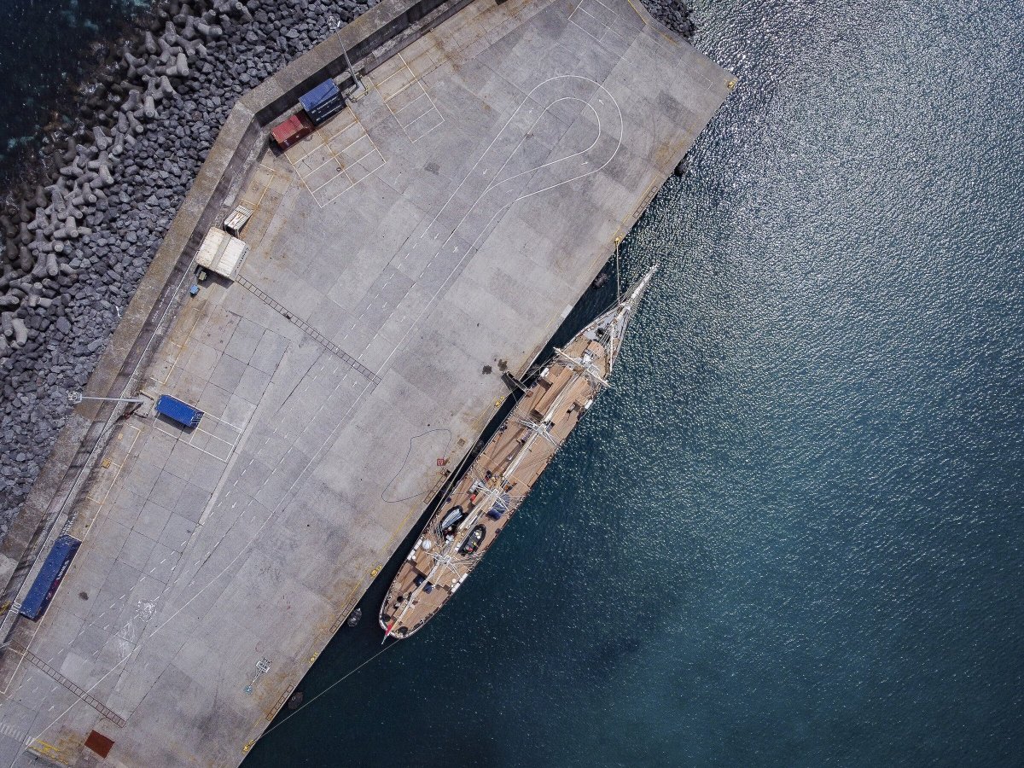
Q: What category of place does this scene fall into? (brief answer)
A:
port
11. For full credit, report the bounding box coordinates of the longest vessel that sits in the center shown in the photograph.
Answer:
[379,264,657,643]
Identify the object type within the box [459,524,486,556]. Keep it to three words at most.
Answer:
boat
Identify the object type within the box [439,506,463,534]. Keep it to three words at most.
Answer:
boat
